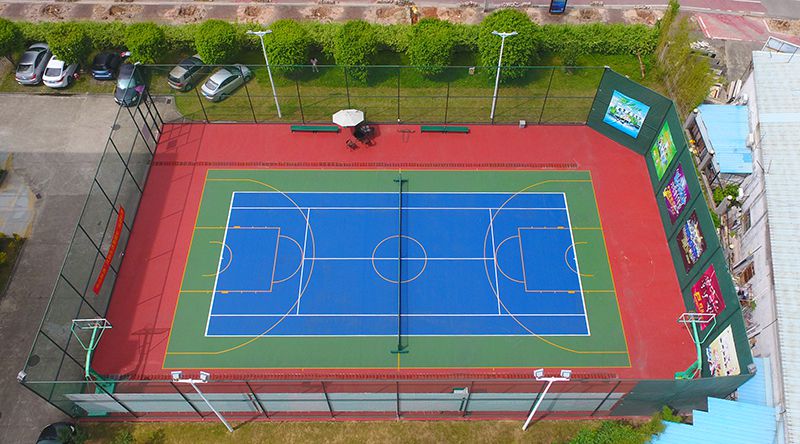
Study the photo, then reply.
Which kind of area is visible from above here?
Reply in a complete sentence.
What you see here is a sports ground.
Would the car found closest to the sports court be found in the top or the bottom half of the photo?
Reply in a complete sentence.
The car found closest to the sports court is in the bottom half of the image.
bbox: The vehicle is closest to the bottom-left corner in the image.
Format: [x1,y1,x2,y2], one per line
[33,422,76,444]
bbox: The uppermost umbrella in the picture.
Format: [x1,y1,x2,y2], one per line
[332,106,363,139]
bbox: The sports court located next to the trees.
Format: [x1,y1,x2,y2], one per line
[72,122,703,422]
